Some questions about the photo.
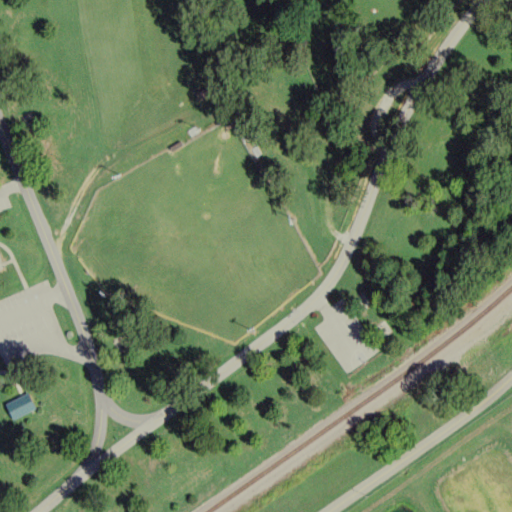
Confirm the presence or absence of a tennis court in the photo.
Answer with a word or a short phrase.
No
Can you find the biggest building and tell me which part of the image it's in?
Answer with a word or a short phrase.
bottom left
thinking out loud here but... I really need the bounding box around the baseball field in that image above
[70,123,323,346]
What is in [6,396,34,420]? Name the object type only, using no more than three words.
building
